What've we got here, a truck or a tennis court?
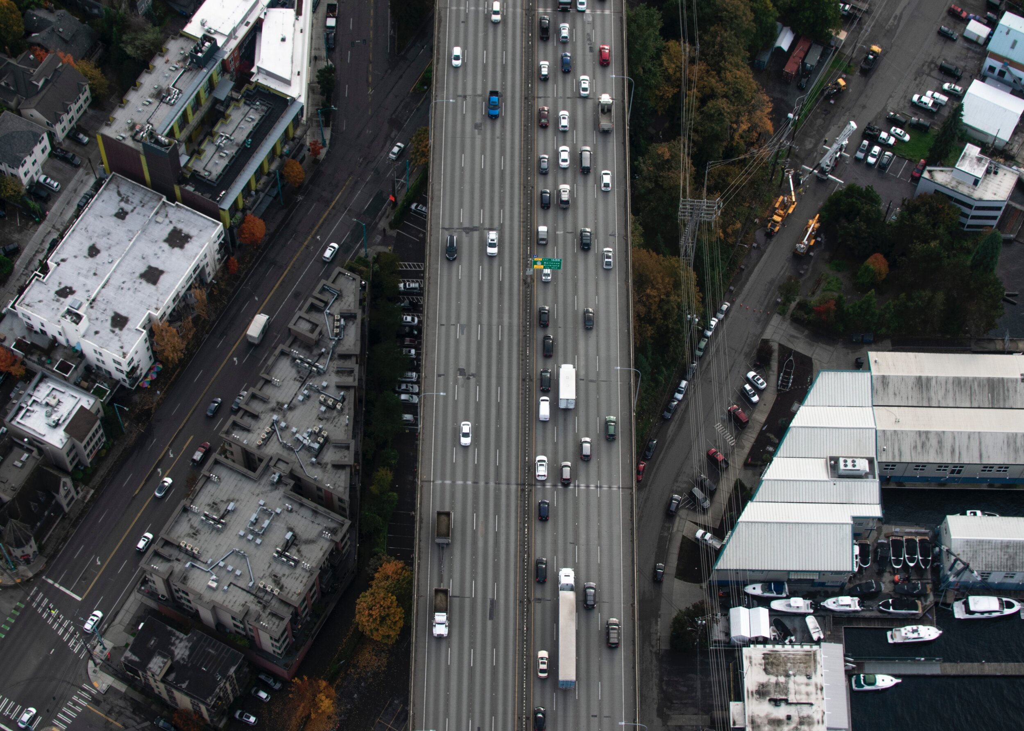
truck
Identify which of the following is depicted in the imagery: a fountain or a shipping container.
shipping container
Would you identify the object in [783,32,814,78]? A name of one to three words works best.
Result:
shipping container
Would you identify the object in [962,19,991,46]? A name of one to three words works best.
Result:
building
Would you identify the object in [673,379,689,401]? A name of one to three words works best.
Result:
car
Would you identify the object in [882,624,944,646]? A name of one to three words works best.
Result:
boat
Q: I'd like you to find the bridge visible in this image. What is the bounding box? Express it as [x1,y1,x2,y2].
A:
[407,0,641,731]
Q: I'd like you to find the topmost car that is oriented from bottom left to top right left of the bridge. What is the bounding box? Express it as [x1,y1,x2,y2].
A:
[388,143,405,162]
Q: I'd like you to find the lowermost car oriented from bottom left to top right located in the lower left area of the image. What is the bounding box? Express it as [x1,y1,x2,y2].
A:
[16,706,38,731]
